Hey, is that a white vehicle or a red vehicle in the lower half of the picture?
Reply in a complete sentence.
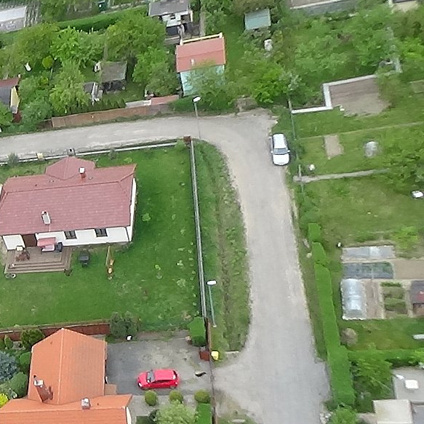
There is a red vehicle in the lower half of the picture.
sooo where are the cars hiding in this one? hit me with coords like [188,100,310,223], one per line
[138,368,180,390]
[269,131,290,165]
